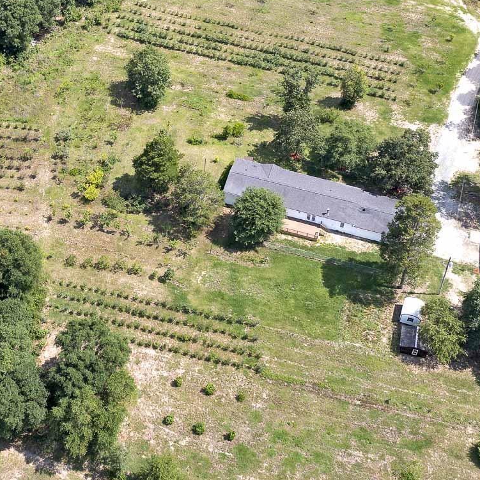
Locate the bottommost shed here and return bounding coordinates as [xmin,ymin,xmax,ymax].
[399,325,428,357]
